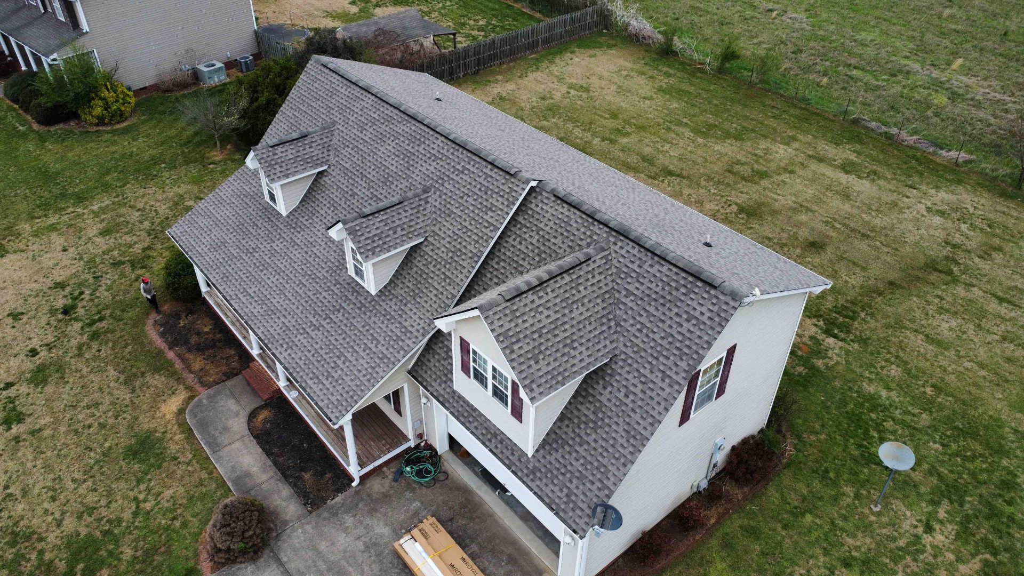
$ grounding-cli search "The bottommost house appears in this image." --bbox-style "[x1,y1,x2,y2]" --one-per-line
[165,53,833,576]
